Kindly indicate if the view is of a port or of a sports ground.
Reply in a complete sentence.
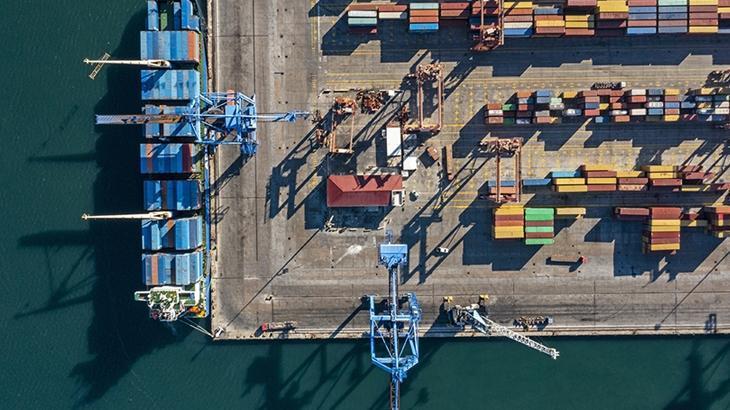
This looks like a port.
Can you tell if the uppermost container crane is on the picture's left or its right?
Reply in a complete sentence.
It is on the right.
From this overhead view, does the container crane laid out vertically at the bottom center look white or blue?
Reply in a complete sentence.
The color of the container crane laid out vertically at the bottom center is blue.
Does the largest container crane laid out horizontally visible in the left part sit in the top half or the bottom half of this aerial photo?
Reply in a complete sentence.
It is in the top half that the largest container crane laid out horizontally visible in the left part appears.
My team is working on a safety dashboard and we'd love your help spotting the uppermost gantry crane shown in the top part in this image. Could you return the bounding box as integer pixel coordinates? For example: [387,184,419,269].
[453,0,505,56]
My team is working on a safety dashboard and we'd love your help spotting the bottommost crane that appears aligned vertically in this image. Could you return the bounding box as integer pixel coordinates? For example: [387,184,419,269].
[362,224,423,410]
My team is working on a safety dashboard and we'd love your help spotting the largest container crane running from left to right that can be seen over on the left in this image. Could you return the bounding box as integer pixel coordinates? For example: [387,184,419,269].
[95,86,303,156]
